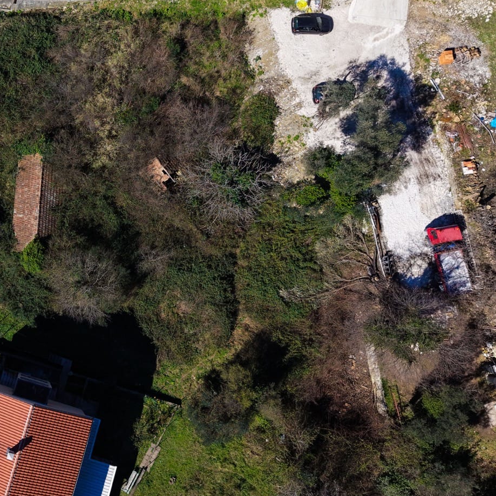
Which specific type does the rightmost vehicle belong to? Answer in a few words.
truck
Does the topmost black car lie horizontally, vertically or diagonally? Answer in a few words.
horizontally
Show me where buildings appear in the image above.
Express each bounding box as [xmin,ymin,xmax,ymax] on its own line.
[145,154,184,192]
[0,376,117,496]
[12,155,55,247]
